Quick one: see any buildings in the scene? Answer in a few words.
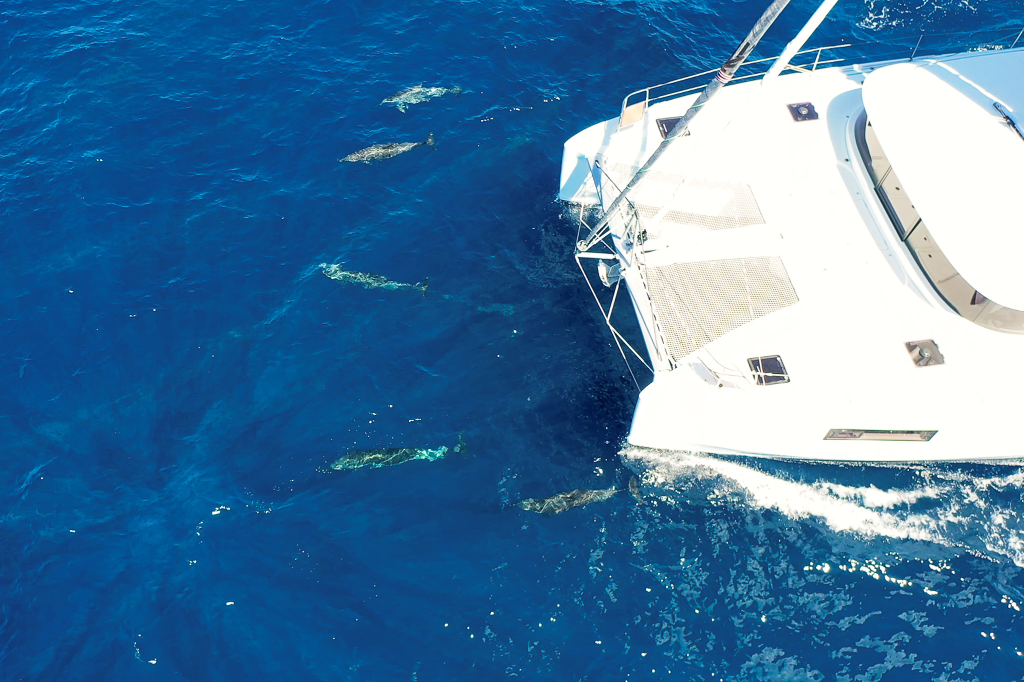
No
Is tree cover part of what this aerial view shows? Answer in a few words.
No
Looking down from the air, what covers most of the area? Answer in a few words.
water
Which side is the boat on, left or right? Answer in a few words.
right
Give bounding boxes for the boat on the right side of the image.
[561,0,1024,461]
